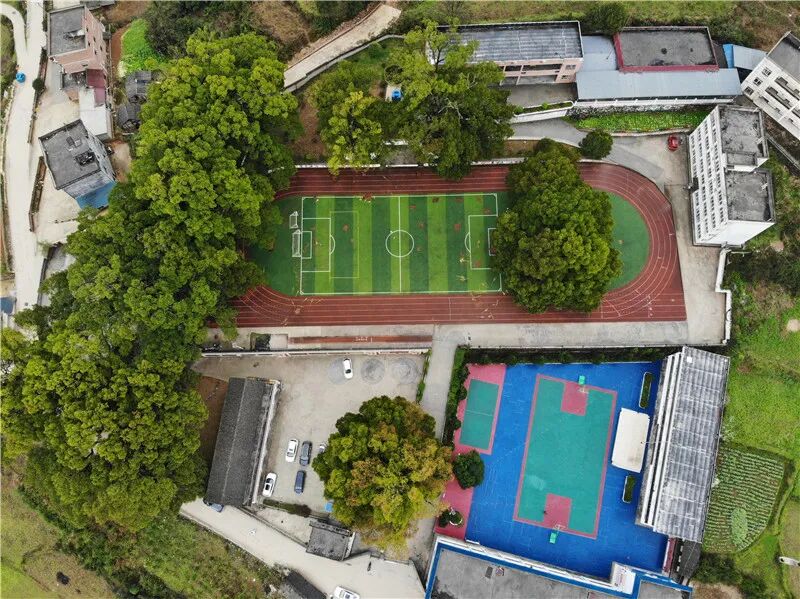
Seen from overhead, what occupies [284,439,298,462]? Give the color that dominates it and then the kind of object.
white car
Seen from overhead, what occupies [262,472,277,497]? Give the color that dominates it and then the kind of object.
white car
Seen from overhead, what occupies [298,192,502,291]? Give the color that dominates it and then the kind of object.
green sports field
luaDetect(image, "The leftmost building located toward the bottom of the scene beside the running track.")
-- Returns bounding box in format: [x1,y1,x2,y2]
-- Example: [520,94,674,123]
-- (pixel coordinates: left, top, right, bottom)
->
[205,376,284,507]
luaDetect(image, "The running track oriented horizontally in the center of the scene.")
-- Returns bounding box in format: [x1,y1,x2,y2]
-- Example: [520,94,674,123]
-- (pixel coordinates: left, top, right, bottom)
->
[212,164,687,324]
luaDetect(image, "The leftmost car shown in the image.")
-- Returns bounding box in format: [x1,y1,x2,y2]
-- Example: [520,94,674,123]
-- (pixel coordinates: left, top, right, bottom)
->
[200,494,223,514]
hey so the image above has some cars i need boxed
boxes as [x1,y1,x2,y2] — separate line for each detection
[262,472,277,497]
[293,469,307,496]
[200,494,223,514]
[341,358,352,379]
[667,132,678,151]
[334,585,361,599]
[284,439,298,462]
[298,441,313,466]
